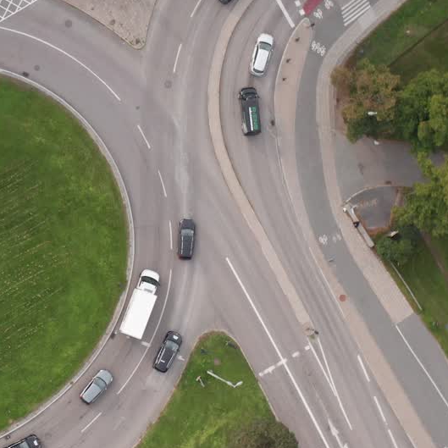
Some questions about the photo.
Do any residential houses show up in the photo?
No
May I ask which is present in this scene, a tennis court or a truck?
truck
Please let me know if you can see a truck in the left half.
Yes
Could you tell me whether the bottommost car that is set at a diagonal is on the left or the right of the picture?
left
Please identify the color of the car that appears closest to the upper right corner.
white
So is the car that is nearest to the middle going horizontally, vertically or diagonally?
vertically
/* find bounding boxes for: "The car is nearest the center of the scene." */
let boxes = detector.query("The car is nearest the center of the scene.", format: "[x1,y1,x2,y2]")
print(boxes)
[176,218,197,259]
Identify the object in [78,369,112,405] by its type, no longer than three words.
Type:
car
